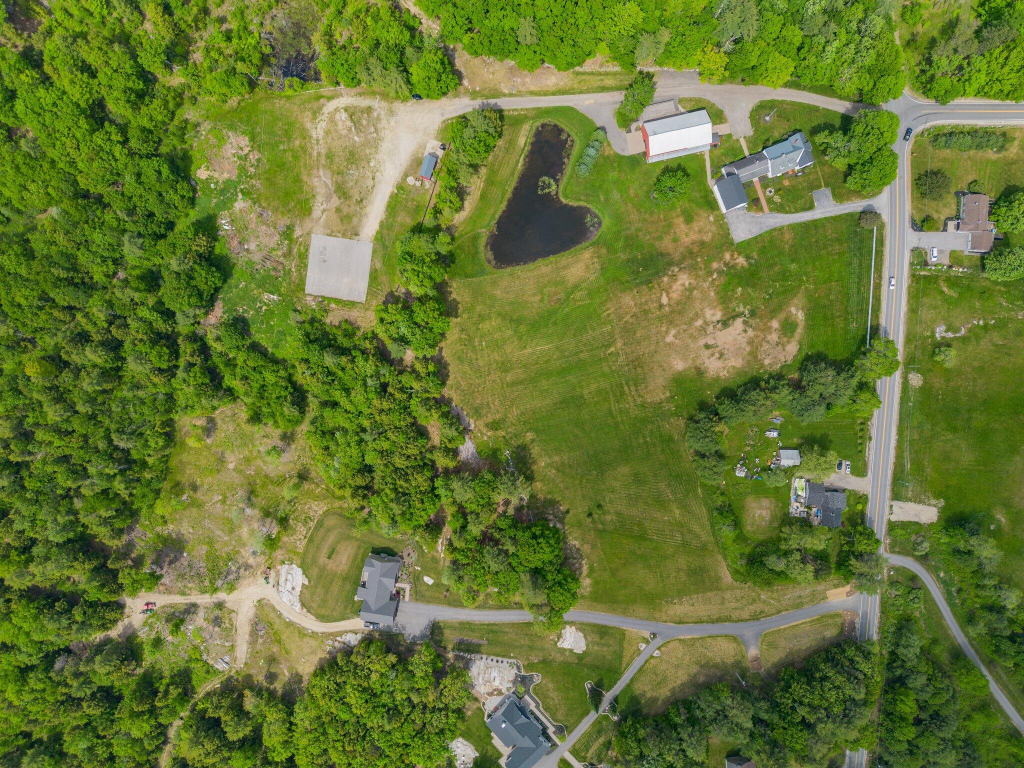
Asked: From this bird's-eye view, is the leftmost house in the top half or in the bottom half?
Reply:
bottom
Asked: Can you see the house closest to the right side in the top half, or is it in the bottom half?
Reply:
top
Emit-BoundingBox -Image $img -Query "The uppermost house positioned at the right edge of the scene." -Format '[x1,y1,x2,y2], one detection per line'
[955,193,1004,252]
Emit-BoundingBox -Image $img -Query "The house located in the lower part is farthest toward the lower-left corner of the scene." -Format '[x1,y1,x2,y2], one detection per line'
[355,551,402,626]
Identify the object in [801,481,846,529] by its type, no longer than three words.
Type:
house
